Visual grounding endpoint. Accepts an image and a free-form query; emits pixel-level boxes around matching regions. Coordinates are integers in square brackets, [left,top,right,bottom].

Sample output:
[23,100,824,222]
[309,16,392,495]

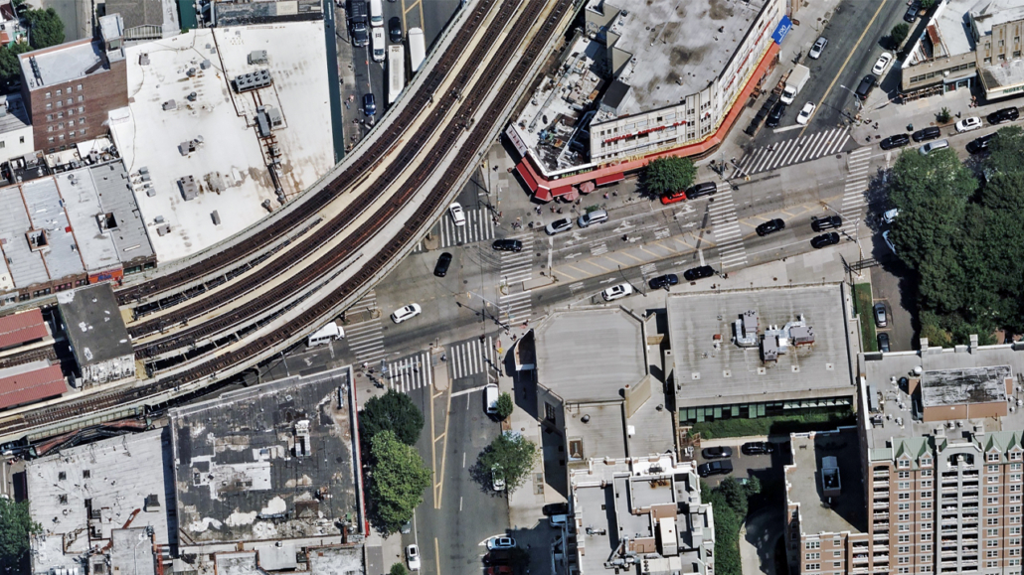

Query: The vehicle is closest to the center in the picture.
[492,237,522,252]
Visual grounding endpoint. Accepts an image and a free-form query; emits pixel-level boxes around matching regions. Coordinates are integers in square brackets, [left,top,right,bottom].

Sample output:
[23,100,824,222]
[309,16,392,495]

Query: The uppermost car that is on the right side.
[902,0,923,24]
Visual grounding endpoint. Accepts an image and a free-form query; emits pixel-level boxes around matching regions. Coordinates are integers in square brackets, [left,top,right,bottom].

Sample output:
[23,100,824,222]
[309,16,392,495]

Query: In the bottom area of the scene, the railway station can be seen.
[0,308,136,419]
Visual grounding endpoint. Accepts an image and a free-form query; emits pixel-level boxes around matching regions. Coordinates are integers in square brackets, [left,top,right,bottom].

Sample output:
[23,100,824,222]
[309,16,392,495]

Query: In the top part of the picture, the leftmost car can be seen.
[14,0,38,20]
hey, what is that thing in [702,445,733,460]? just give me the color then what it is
black car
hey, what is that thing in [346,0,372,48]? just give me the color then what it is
black truck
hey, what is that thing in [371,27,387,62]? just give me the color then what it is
white vehicle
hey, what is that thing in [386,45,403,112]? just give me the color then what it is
white vehicle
